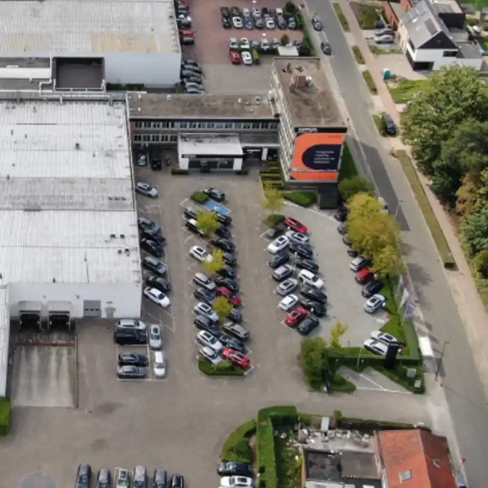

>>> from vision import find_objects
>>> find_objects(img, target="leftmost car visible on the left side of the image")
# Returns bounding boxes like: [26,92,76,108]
[75,464,91,488]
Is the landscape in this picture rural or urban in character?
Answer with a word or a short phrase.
urban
